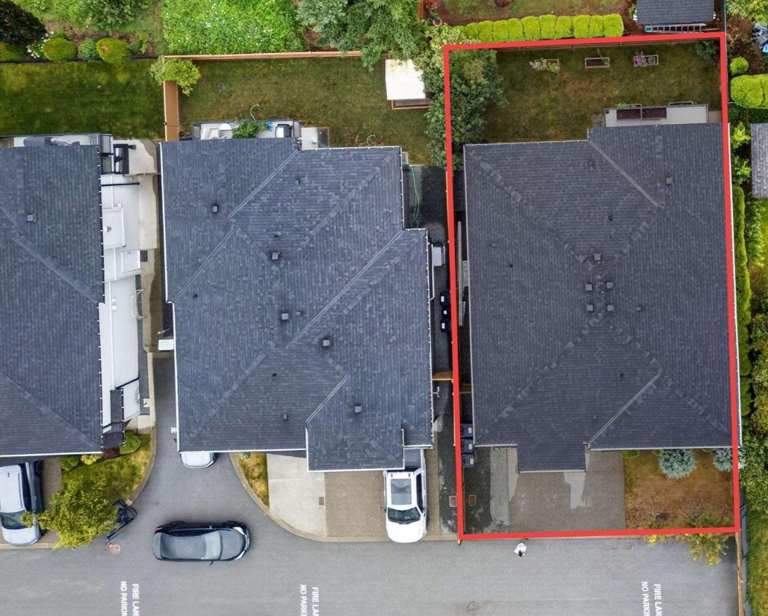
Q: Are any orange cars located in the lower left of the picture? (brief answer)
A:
No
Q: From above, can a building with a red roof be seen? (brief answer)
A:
No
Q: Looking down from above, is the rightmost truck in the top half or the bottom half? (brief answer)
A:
bottom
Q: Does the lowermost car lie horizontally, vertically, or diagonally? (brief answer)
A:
horizontally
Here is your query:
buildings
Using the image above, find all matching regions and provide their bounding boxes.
[384,58,431,108]
[158,138,439,473]
[0,146,148,457]
[752,123,768,198]
[462,123,738,473]
[636,0,717,26]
